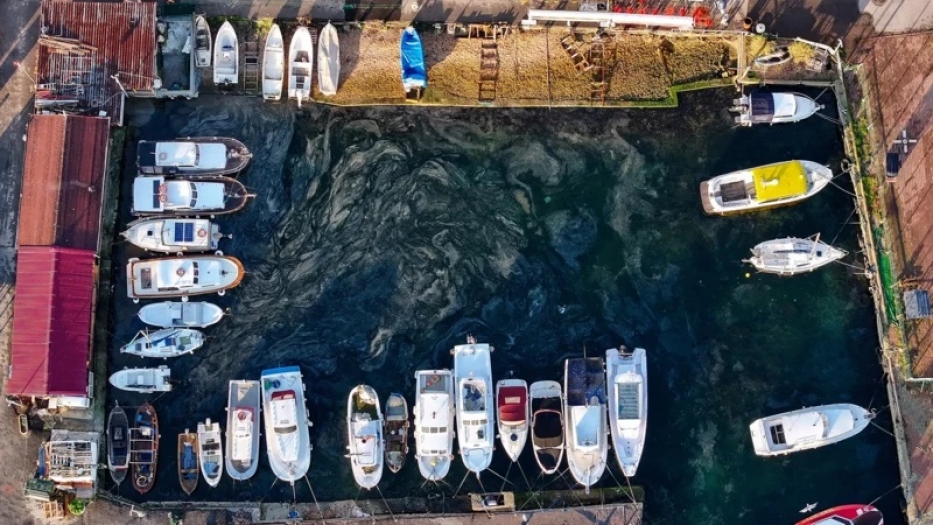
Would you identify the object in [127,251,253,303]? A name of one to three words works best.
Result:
boat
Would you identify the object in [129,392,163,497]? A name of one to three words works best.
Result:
boat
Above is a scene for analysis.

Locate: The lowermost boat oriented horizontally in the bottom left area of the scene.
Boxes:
[105,365,181,403]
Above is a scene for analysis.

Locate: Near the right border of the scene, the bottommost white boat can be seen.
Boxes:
[743,379,891,460]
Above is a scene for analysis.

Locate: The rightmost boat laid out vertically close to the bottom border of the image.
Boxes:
[605,342,649,502]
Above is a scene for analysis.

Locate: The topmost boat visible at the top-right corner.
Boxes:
[754,49,795,68]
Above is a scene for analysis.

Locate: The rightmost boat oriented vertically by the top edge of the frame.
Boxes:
[399,24,427,96]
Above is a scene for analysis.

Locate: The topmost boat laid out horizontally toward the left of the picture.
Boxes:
[138,136,256,177]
